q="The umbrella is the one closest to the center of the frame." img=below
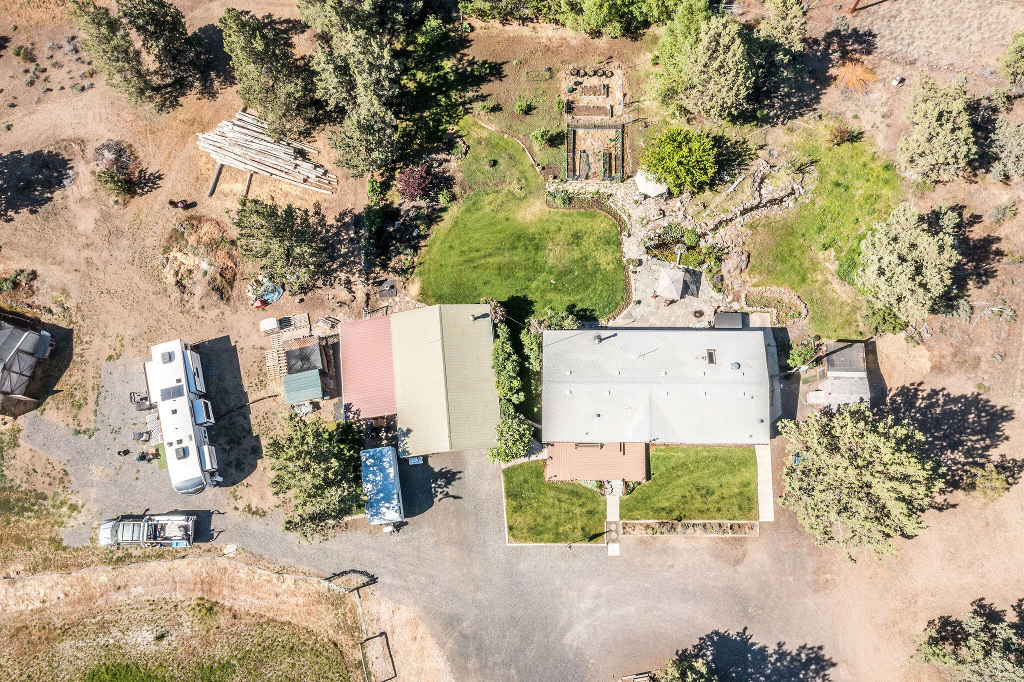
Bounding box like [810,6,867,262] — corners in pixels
[656,270,682,300]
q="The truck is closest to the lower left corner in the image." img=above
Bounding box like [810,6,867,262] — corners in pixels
[99,515,202,549]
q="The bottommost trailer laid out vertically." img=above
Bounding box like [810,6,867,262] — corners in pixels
[360,446,403,538]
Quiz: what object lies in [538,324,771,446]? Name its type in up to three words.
house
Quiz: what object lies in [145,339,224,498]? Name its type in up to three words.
trailer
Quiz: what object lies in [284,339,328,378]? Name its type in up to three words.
shed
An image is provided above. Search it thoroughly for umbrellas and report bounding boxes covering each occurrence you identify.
[629,167,670,200]
[656,270,682,300]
